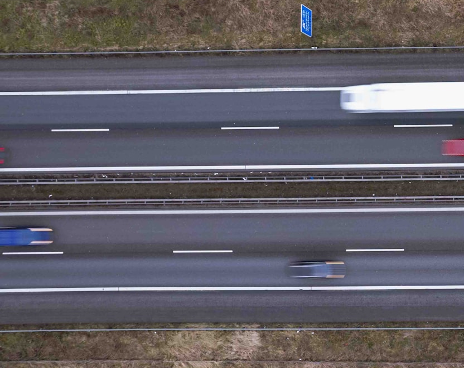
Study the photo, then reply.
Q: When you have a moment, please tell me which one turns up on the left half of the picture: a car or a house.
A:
car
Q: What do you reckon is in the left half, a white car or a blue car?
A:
blue car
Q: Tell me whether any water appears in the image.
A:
No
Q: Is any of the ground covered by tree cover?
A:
No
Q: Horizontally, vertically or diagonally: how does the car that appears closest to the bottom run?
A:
horizontally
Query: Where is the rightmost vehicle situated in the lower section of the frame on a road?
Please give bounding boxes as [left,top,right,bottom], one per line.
[293,260,343,280]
